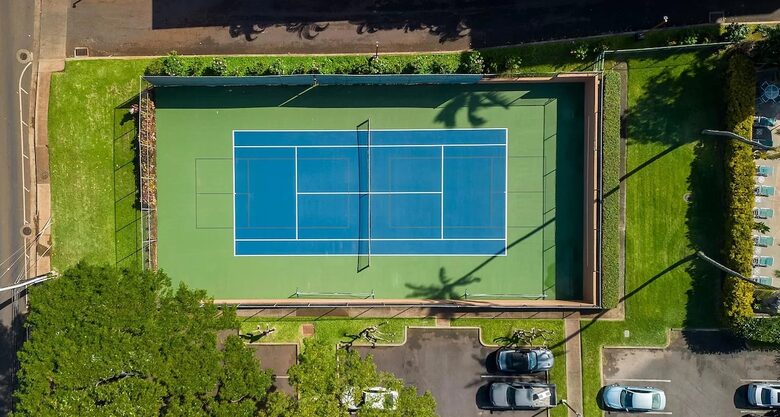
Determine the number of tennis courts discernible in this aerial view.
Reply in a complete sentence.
I count just 1 tennis court.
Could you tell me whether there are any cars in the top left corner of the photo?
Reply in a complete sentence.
No, the scene shows no car in the top left corner of the photo.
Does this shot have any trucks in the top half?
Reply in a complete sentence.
No, I see no truck in the top half.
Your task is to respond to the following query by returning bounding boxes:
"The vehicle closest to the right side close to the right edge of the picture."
[744,383,780,412]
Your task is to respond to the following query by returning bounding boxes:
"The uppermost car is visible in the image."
[497,347,553,375]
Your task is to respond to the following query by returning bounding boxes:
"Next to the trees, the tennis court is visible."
[157,82,583,298]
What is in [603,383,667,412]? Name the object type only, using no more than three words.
car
